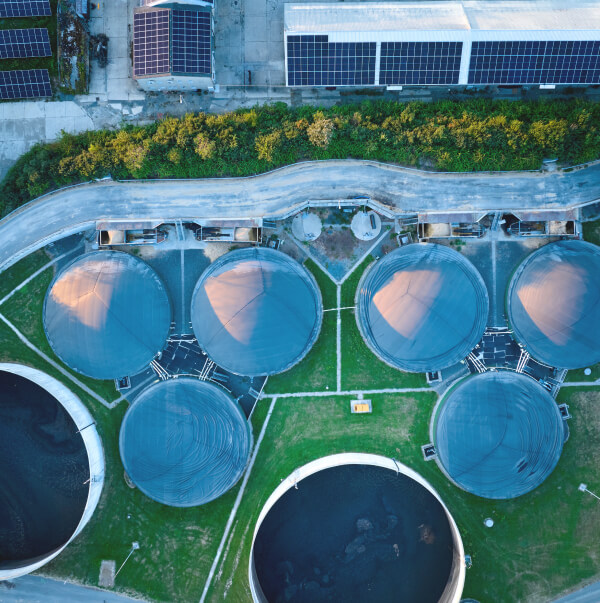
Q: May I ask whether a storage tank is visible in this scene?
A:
Yes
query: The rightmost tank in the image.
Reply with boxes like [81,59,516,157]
[500,236,600,375]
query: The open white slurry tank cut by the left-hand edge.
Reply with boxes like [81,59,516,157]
[0,365,105,580]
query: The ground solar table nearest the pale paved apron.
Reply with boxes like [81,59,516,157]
[0,69,52,99]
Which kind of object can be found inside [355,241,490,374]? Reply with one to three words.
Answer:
storage tank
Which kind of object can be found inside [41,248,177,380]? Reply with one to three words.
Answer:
storage tank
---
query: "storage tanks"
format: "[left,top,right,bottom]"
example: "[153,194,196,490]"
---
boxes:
[41,248,177,380]
[250,452,466,603]
[0,365,105,580]
[293,207,323,242]
[428,367,565,501]
[500,236,600,375]
[350,206,382,241]
[121,375,253,506]
[191,244,324,377]
[355,241,490,374]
